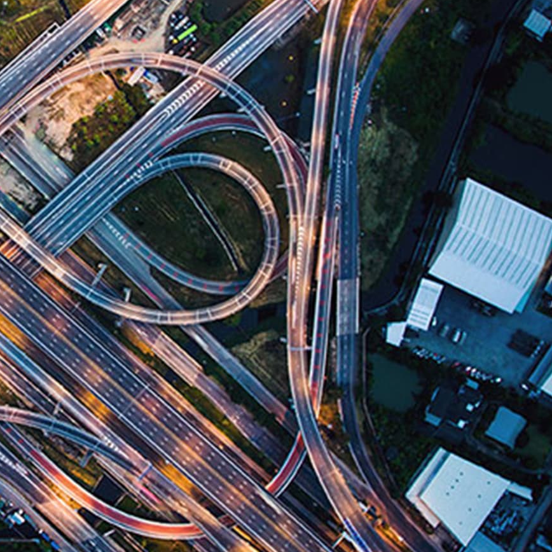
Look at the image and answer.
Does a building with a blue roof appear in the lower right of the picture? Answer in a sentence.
Yes, looking in the lower right of the picture, one can make out a building with a blue roof.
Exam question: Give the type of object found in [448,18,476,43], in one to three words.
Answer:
building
